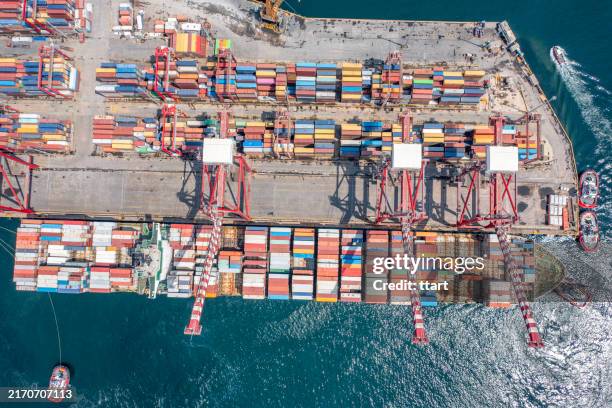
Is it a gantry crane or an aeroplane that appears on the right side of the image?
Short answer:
gantry crane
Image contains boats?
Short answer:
Yes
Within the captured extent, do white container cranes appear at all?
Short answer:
Yes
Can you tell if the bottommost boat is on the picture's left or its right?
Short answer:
left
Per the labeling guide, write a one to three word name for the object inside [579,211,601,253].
boat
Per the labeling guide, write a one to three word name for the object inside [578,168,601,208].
boat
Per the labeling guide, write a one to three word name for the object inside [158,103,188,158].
crane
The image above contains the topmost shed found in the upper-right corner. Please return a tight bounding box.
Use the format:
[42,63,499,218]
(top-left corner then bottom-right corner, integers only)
[494,19,516,49]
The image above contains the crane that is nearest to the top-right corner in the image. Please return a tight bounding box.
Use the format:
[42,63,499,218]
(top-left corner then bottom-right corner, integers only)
[507,113,543,164]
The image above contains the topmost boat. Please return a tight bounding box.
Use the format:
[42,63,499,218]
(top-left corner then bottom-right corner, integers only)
[552,47,565,66]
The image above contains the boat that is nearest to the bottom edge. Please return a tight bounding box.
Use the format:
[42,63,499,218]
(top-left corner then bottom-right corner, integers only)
[47,363,72,405]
